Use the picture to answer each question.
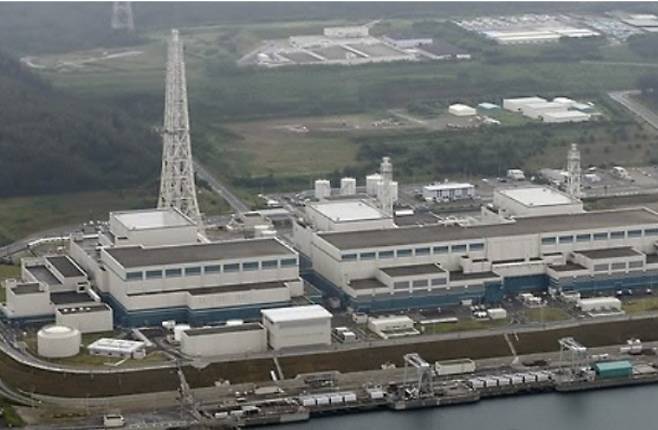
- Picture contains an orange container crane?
No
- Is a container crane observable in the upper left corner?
No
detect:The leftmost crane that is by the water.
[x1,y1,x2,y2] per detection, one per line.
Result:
[402,352,434,400]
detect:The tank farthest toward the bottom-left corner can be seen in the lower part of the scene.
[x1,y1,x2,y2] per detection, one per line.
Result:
[37,324,82,359]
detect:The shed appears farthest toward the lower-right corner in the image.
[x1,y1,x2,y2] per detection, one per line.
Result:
[587,357,636,380]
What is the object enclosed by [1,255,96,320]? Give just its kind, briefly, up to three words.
building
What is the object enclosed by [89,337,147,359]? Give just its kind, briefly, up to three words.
building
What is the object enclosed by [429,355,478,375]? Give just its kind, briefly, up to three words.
house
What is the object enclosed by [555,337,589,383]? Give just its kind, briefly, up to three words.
container crane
